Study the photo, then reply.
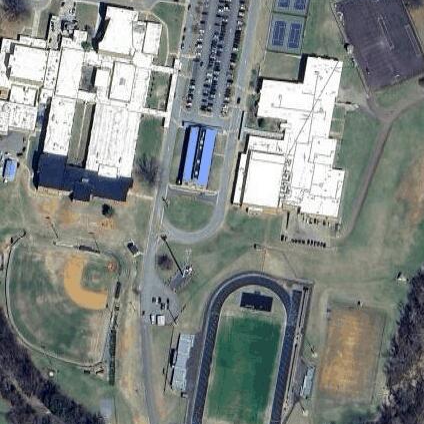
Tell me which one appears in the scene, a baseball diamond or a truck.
baseball diamond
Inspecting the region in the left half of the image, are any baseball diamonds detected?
Yes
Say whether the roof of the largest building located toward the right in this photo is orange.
No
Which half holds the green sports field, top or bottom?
bottom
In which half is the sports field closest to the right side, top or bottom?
bottom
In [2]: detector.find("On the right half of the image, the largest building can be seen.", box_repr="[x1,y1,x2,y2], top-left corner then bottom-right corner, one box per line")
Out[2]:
[233,57,345,221]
